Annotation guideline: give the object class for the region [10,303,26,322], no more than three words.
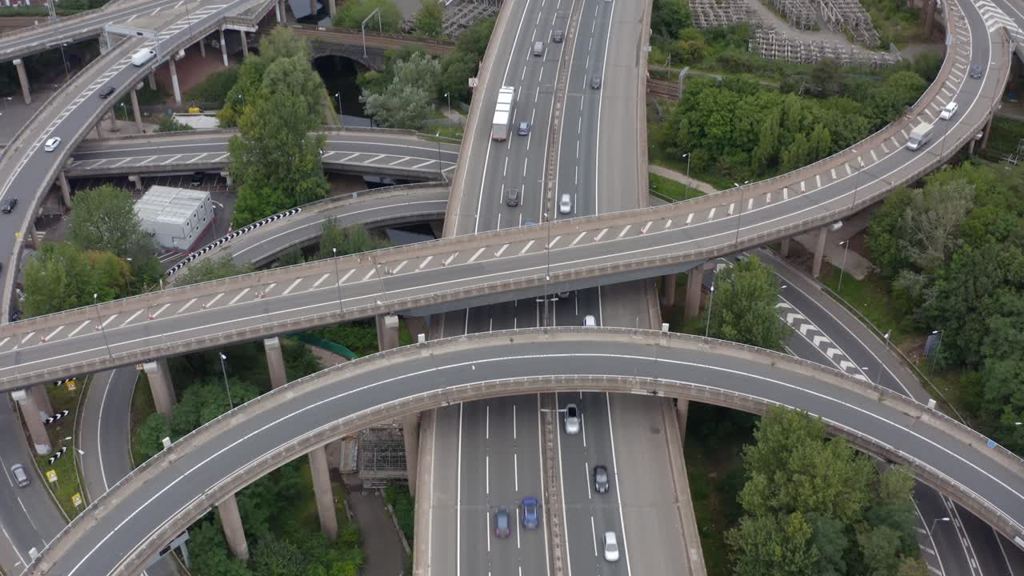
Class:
car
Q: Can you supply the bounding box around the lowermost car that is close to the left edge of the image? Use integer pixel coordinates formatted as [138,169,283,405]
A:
[10,463,31,489]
